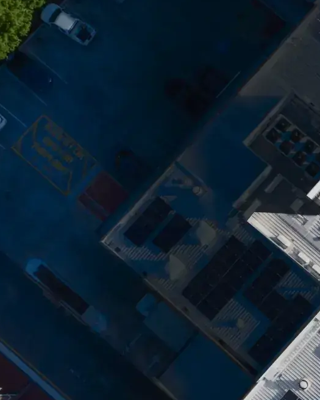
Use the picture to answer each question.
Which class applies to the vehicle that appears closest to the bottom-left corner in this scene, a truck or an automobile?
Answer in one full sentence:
Specifically, the vehicle that appears closest to the bottom-left corner is a truck.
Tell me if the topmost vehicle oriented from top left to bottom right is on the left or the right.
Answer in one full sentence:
The topmost vehicle oriented from top left to bottom right sits on the left side.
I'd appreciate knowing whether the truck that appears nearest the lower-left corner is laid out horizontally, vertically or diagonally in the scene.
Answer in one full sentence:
The truck that appears nearest the lower-left corner runs diagonally in the image.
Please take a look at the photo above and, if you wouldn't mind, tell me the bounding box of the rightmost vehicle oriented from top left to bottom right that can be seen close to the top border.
[40,2,101,50]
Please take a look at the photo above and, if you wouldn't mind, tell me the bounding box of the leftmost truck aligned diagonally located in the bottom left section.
[23,256,113,341]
